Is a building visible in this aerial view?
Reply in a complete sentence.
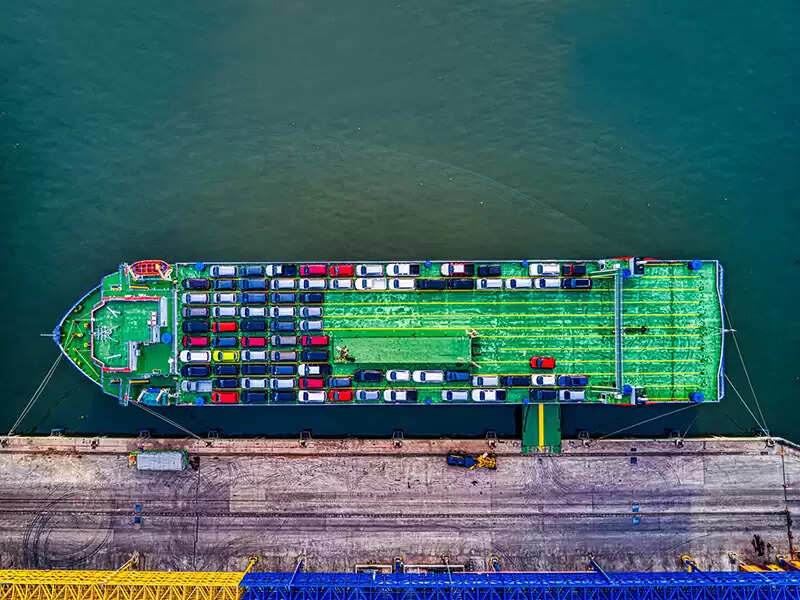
No, no building can be seen from above.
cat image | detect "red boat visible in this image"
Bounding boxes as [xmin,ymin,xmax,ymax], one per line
[129,259,171,277]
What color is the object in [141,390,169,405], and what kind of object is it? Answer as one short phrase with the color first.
blue boat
